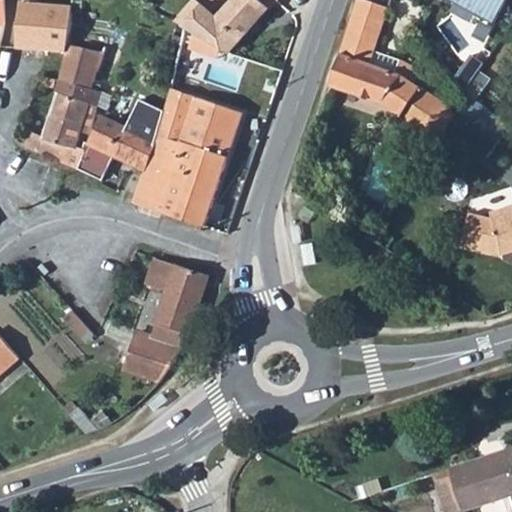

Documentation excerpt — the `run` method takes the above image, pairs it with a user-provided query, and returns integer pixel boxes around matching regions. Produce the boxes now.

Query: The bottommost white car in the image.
[1,480,24,494]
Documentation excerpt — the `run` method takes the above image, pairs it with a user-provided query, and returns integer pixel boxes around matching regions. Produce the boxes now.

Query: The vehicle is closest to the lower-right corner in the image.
[457,353,480,365]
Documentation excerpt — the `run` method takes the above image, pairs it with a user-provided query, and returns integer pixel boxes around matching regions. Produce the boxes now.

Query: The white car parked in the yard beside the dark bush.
[5,154,22,175]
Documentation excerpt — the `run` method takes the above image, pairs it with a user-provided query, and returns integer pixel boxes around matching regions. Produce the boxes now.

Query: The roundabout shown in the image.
[222,304,343,430]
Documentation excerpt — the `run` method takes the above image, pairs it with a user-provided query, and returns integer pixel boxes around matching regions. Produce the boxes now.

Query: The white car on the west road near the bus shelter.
[166,410,188,428]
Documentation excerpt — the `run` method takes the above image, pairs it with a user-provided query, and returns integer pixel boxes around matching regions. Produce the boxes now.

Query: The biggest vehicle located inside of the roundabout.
[302,388,334,403]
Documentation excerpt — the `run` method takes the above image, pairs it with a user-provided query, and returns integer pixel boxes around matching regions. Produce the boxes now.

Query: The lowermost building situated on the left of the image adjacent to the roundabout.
[120,258,210,386]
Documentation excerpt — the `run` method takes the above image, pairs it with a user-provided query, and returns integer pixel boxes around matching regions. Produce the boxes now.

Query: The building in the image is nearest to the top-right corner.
[450,0,506,42]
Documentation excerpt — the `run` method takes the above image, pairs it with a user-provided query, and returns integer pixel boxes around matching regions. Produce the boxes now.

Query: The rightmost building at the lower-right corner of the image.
[433,438,512,512]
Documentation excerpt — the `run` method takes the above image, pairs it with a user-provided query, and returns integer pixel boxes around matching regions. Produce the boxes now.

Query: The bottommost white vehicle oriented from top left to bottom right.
[270,289,288,310]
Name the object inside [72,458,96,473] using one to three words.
car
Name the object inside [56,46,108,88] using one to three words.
house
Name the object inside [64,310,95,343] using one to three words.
shed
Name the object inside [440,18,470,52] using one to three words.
swimming pool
